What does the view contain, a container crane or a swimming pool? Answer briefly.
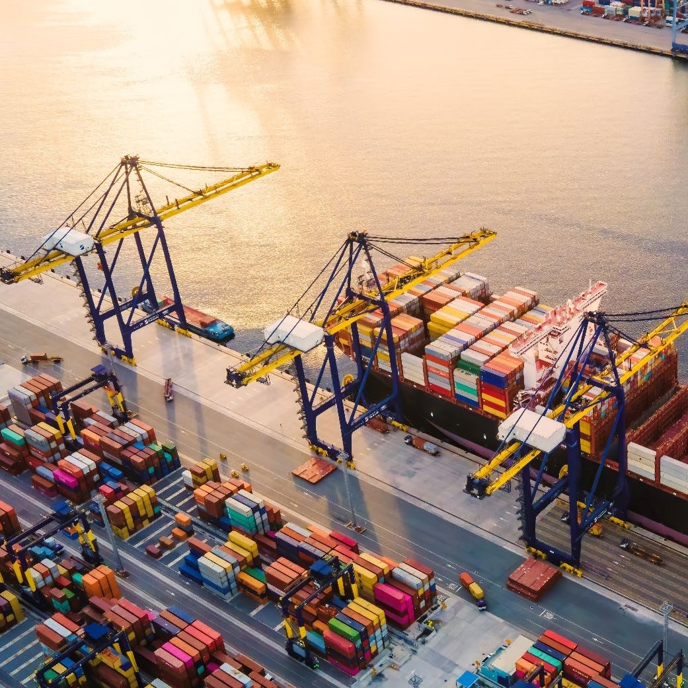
container crane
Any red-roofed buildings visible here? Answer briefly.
No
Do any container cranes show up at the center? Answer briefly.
Yes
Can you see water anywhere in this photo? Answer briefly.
Yes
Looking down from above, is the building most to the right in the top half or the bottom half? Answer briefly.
bottom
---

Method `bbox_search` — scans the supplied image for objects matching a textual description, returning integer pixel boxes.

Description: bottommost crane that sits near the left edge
[31,619,144,688]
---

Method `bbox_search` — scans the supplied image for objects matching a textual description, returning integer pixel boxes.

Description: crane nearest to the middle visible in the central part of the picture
[221,221,500,467]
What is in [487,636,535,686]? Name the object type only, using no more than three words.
building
